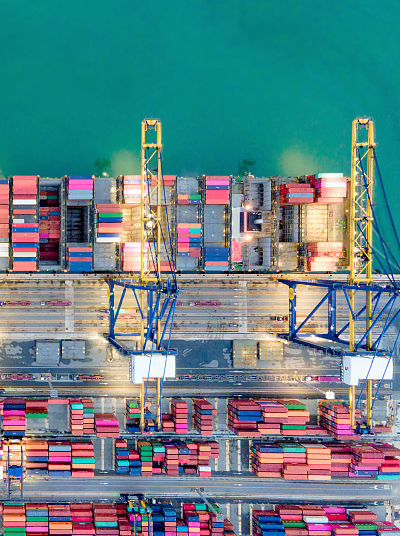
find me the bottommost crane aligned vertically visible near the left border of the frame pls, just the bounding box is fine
[2,438,25,501]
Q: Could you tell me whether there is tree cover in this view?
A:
No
